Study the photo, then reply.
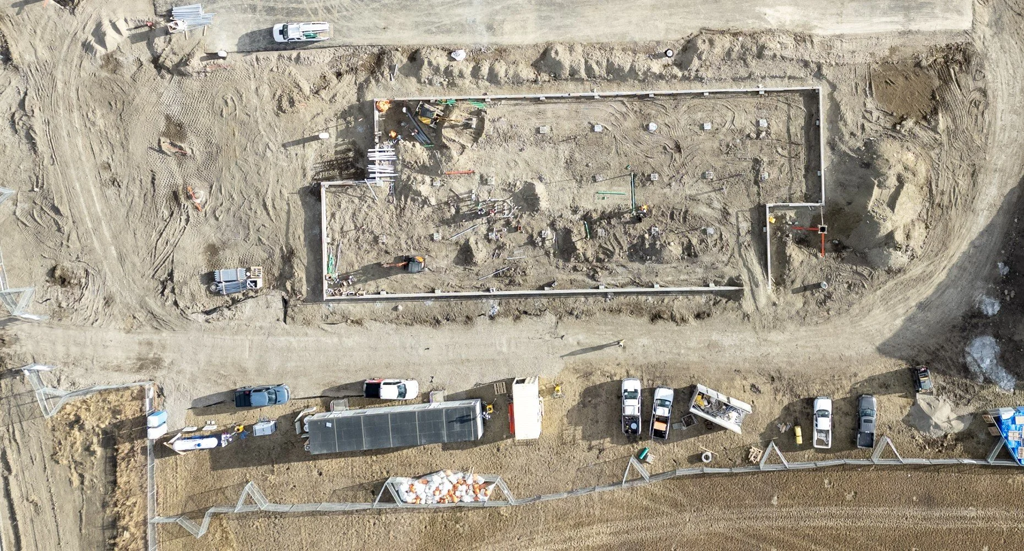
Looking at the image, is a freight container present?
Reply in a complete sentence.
Yes, a freight container is visible in the scene.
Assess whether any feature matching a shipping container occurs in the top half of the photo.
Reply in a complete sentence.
No, there's no shipping container to be seen in the top half of the photo.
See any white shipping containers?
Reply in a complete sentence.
Yes, I can see a white shipping container in this picture.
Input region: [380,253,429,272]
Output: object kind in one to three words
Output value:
work vehicle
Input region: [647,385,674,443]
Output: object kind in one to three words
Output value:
truck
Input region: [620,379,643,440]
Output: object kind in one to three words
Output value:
truck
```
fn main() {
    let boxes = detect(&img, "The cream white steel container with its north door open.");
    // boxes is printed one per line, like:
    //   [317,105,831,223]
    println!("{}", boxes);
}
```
[514,378,539,439]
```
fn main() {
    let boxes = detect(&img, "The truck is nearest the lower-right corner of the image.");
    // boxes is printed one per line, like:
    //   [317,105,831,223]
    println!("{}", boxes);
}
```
[852,392,879,448]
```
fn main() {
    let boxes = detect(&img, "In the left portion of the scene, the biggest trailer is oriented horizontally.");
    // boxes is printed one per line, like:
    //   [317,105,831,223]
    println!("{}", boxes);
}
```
[308,397,481,455]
